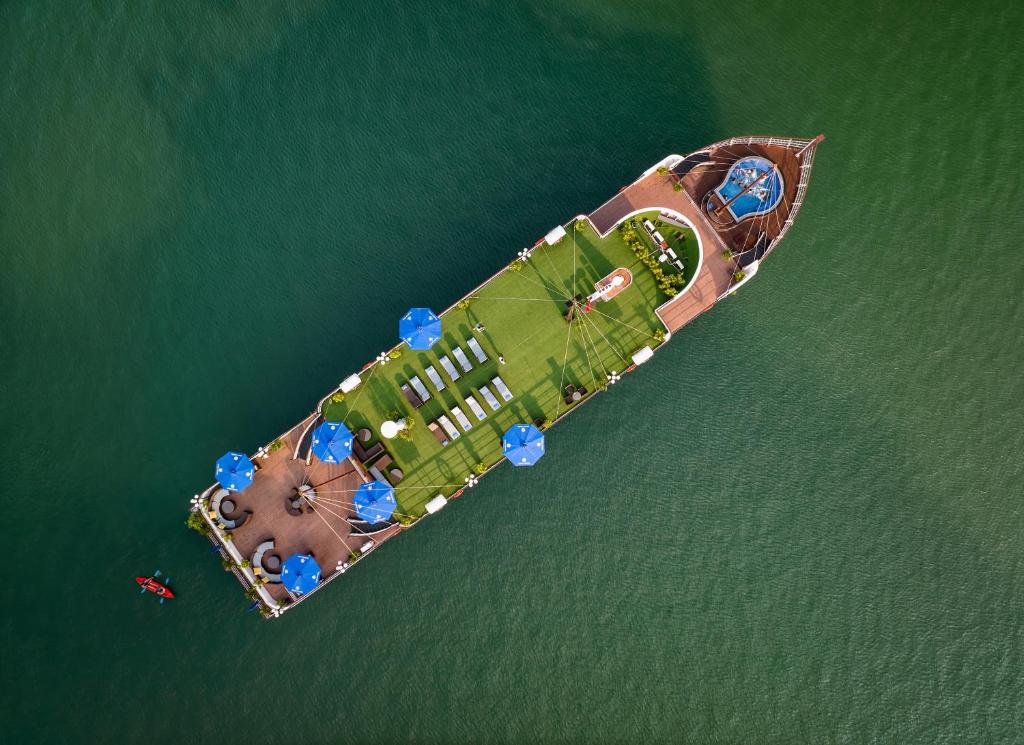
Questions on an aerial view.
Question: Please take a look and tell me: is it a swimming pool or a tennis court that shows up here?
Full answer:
The image shows a swimming pool.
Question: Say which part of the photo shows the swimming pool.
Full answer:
The swimming pool is located in the top right region of the scene.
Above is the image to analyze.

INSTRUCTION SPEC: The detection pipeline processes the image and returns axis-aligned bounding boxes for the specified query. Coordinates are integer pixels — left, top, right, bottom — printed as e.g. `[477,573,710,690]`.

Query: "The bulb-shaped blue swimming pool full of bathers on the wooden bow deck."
[711,157,783,224]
